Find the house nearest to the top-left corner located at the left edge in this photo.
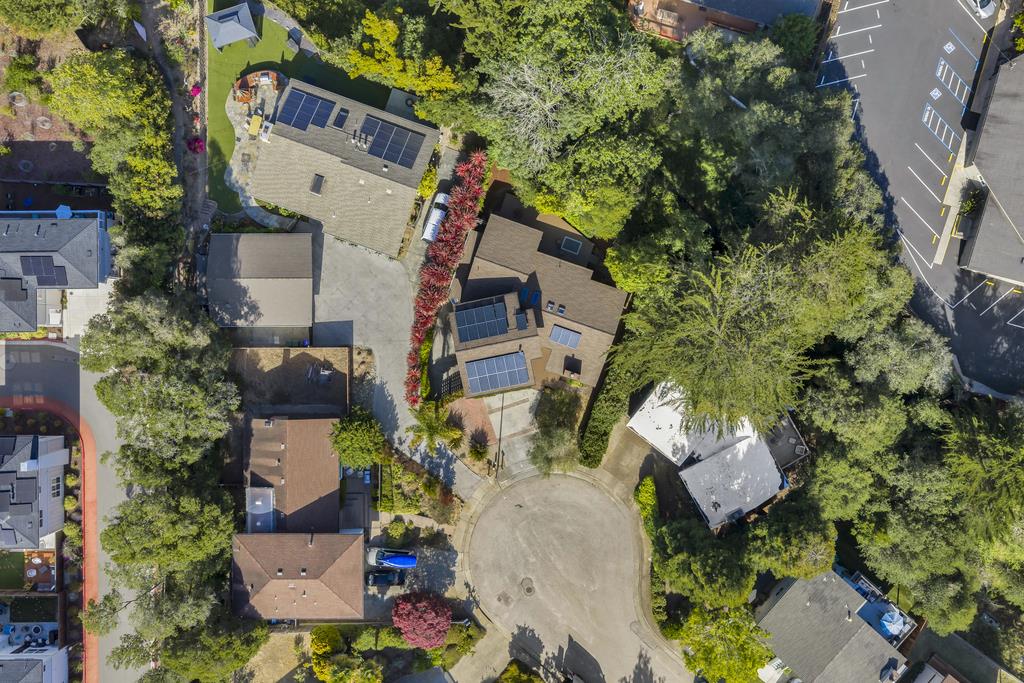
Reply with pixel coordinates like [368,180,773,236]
[0,219,116,332]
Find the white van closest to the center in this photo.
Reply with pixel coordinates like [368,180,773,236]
[420,191,449,243]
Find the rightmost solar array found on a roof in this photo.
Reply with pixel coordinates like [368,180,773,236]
[550,325,581,349]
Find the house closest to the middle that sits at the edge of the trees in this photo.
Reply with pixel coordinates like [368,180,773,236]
[449,214,622,398]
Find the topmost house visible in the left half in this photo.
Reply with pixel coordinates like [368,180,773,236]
[251,79,439,260]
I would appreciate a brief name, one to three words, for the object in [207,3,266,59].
gazebo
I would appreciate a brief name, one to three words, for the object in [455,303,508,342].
solar array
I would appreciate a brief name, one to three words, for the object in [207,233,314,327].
building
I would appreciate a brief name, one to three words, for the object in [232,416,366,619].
house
